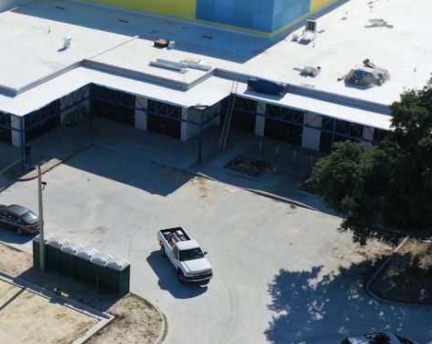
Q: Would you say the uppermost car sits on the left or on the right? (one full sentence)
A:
The uppermost car appears in the left half of the scene.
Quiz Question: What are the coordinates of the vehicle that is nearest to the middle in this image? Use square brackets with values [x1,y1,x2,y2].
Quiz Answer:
[160,228,213,285]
